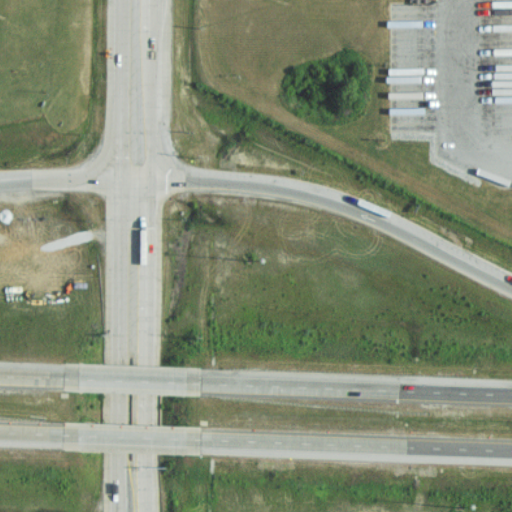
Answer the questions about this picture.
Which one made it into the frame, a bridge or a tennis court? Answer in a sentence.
This aerial view contains a bridge.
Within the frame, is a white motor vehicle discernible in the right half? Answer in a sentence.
Yes, a white motor vehicle shows up in the right half.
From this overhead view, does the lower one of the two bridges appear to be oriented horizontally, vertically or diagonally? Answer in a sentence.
The lower one of the two bridges is laid out horizontally.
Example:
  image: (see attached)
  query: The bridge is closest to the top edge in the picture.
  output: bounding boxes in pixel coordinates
[65,363,201,398]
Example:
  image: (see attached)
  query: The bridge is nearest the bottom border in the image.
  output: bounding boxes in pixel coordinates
[65,422,201,456]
